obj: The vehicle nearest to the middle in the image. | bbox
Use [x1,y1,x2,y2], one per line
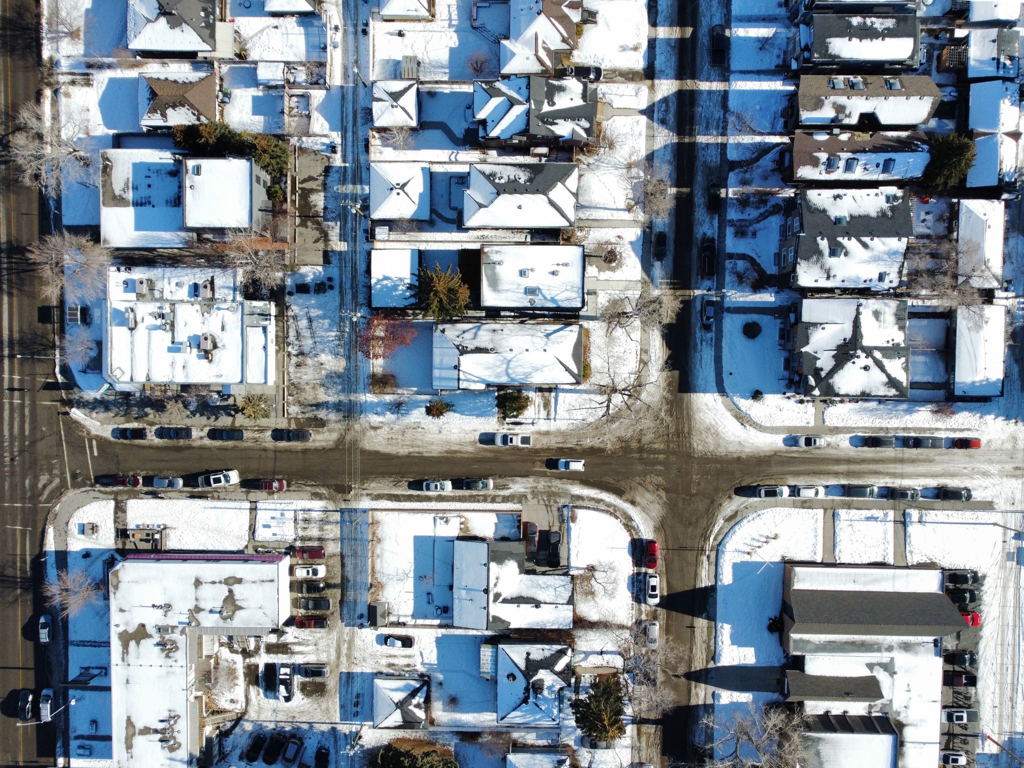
[494,432,533,448]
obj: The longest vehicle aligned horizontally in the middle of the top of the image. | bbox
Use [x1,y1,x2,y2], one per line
[565,65,603,83]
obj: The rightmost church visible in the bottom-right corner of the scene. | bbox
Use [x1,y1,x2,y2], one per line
[779,561,969,768]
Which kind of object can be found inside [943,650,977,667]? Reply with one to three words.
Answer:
car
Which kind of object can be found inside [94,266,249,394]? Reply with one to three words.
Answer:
building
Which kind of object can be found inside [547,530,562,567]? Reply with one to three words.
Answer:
vehicle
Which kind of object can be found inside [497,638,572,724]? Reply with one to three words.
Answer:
house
